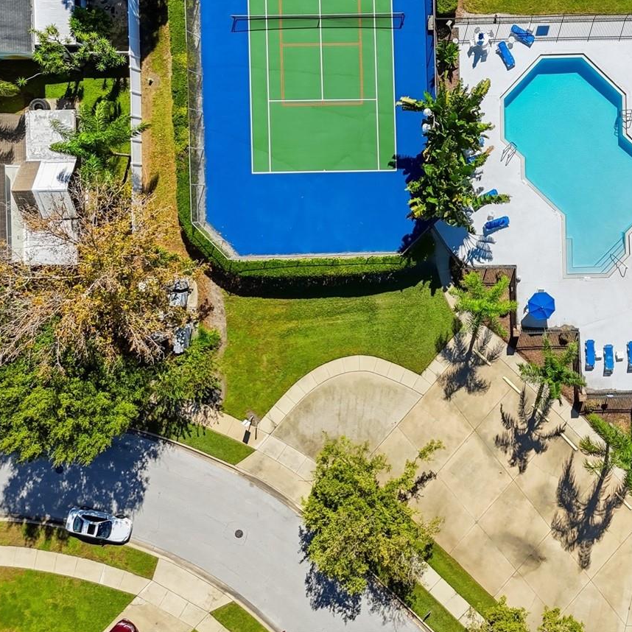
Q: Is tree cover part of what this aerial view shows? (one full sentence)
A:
Yes, there is tree cover in the image.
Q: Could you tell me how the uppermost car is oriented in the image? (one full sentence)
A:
From this overhead view, the uppermost car appears to run horizontally.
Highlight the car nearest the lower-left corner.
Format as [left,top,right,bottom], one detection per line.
[102,616,137,632]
